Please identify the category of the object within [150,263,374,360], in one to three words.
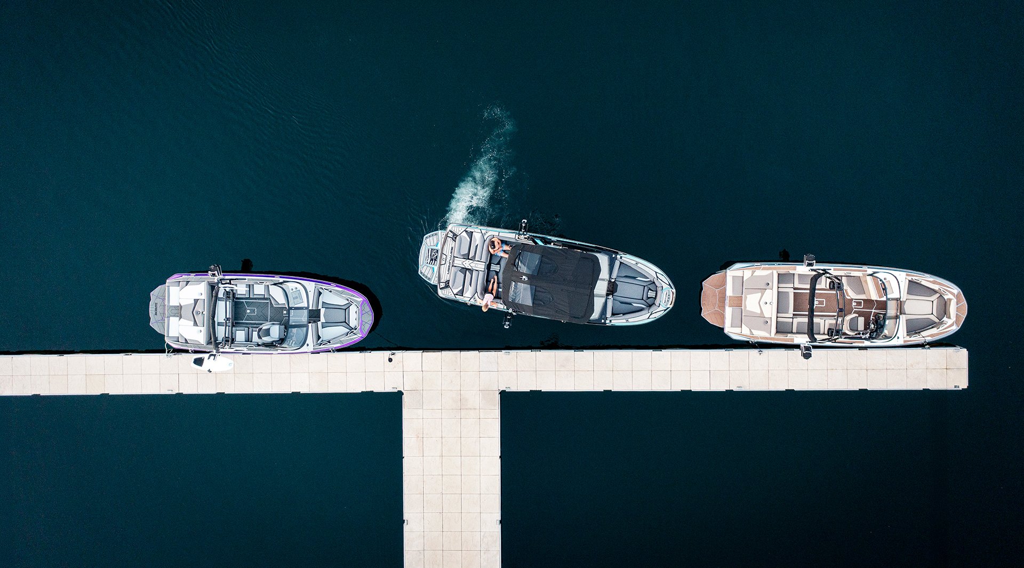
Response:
boat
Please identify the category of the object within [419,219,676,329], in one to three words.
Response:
boat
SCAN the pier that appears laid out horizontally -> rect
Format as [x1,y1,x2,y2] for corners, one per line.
[0,347,968,568]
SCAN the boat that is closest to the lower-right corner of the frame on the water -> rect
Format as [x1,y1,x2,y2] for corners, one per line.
[700,252,967,360]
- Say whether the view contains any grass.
No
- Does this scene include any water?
Yes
